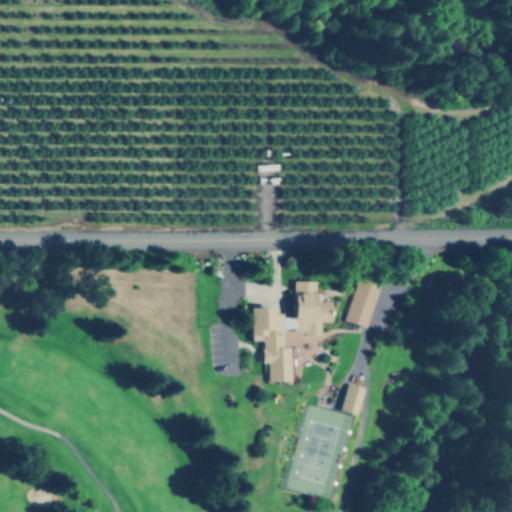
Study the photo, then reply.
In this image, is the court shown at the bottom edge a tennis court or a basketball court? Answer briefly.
tennis court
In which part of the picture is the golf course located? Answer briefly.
bottom left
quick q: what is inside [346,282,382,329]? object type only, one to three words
building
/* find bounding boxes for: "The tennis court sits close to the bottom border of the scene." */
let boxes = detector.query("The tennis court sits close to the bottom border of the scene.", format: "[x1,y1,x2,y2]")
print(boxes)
[282,404,354,498]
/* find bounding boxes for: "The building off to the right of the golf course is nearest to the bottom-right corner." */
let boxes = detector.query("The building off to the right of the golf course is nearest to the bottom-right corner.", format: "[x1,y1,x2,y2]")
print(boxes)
[342,384,367,416]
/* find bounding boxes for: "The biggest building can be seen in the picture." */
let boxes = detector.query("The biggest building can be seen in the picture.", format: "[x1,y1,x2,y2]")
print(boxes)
[254,282,338,384]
